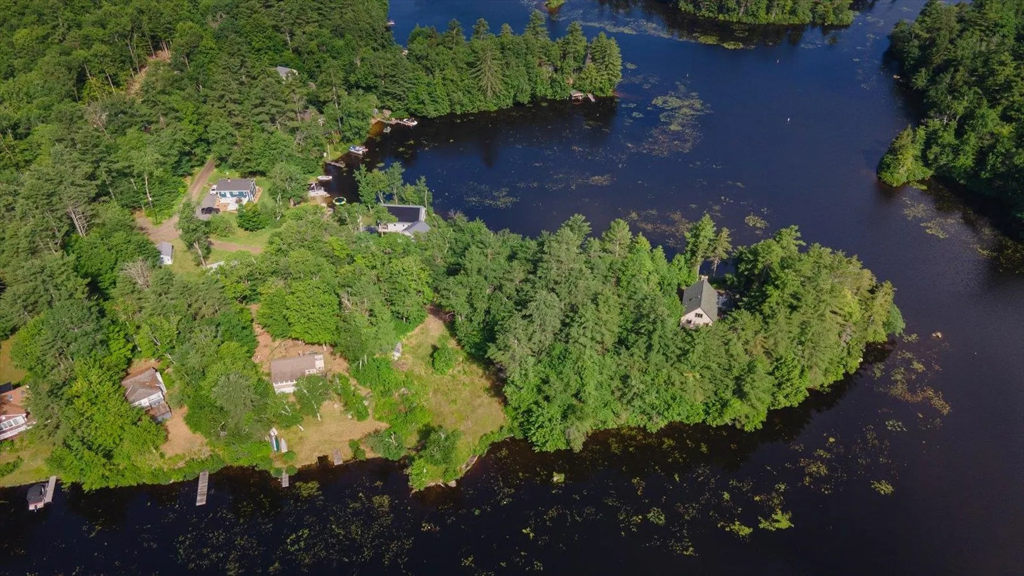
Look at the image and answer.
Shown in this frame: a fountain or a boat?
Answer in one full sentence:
Of the two, only a boat appears.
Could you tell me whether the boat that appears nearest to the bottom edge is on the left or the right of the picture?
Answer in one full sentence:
The boat that appears nearest to the bottom edge appears in the left half of the scene.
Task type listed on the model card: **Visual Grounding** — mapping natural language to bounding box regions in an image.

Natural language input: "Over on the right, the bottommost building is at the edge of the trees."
[676,275,731,332]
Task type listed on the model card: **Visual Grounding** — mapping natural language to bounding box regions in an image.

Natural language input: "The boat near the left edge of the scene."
[24,481,48,510]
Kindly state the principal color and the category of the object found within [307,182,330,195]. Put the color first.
white boat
